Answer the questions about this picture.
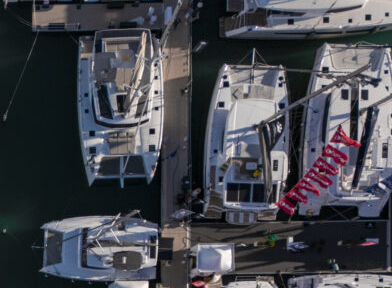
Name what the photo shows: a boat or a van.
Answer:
boat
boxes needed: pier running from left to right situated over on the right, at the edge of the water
[190,221,389,273]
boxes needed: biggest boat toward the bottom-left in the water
[40,208,167,285]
